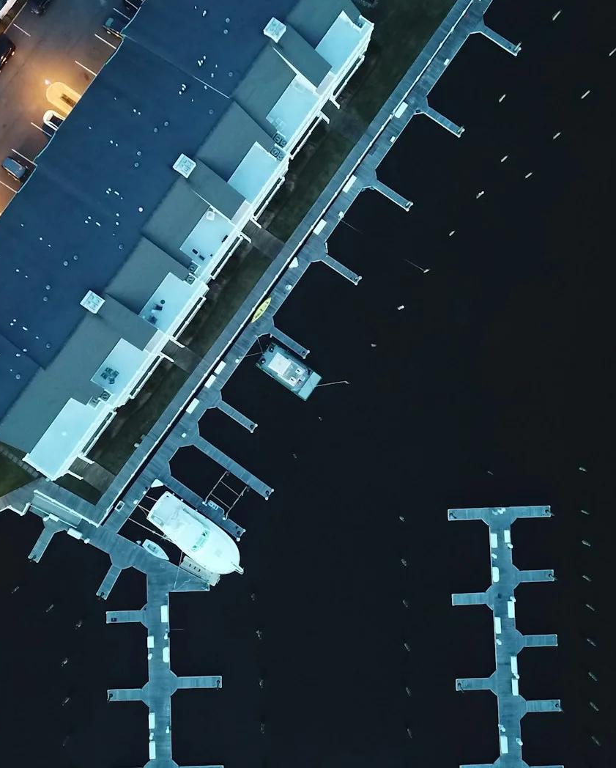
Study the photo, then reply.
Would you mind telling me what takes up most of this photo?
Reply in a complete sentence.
For the most part, this view shows water.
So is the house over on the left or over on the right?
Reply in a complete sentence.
The house sits on the left side.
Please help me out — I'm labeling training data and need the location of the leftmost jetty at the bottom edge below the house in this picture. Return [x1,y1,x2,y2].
[26,496,226,768]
